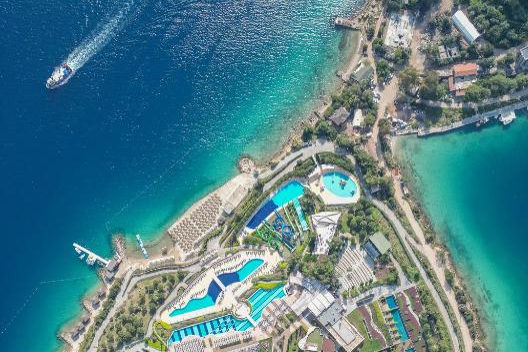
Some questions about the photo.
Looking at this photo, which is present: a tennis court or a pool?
pool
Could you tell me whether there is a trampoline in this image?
No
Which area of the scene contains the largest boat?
top left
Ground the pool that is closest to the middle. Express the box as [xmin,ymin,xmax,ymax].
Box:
[246,180,305,229]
